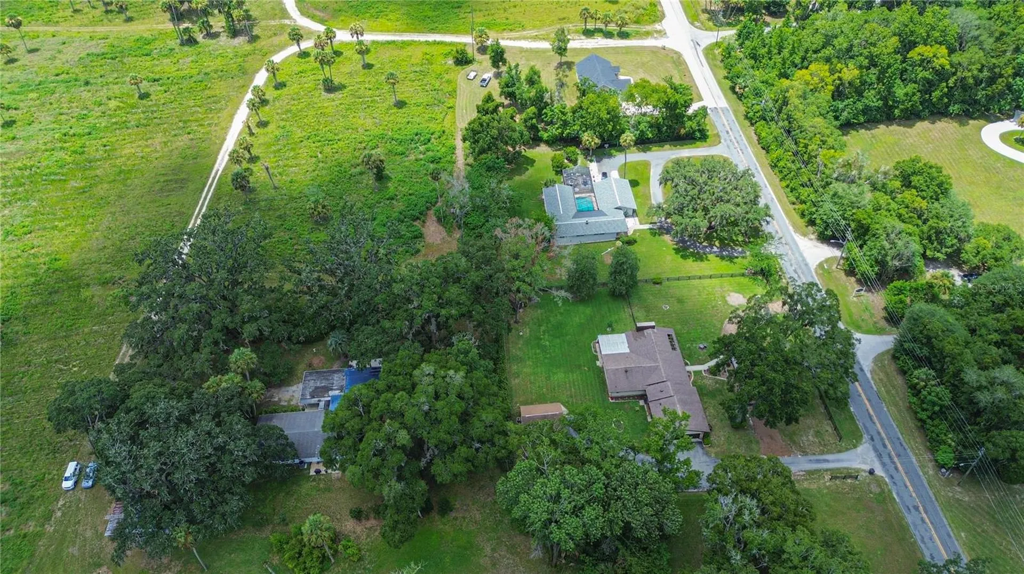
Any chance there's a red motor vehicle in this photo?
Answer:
No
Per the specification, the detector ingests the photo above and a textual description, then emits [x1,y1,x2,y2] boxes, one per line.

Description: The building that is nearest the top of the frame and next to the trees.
[575,53,631,98]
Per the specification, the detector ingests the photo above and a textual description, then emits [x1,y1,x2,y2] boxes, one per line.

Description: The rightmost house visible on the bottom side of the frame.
[597,320,710,438]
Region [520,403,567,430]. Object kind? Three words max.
shed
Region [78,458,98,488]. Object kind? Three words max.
car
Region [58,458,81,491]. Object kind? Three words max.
car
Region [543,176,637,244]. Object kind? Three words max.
building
